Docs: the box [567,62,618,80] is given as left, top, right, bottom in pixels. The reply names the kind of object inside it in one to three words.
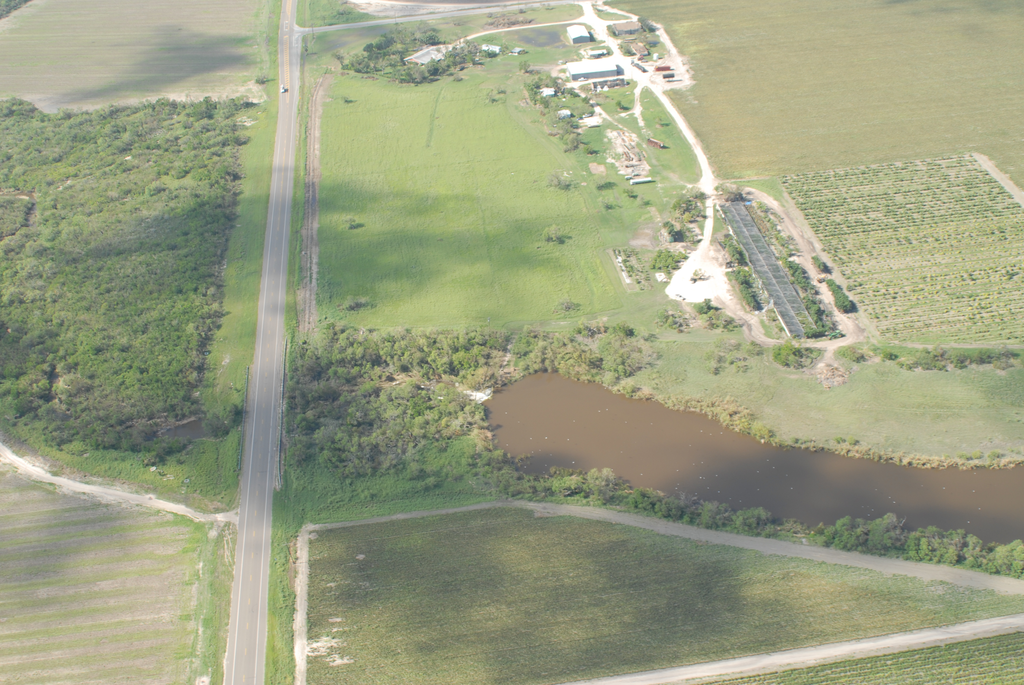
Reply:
shed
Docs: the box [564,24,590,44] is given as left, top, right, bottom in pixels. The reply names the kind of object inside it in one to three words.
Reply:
barn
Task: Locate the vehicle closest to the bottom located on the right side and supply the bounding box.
[825,328,842,340]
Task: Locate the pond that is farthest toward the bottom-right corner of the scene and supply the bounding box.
[486,372,1024,553]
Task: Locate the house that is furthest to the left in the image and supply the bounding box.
[404,40,463,67]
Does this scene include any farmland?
Yes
